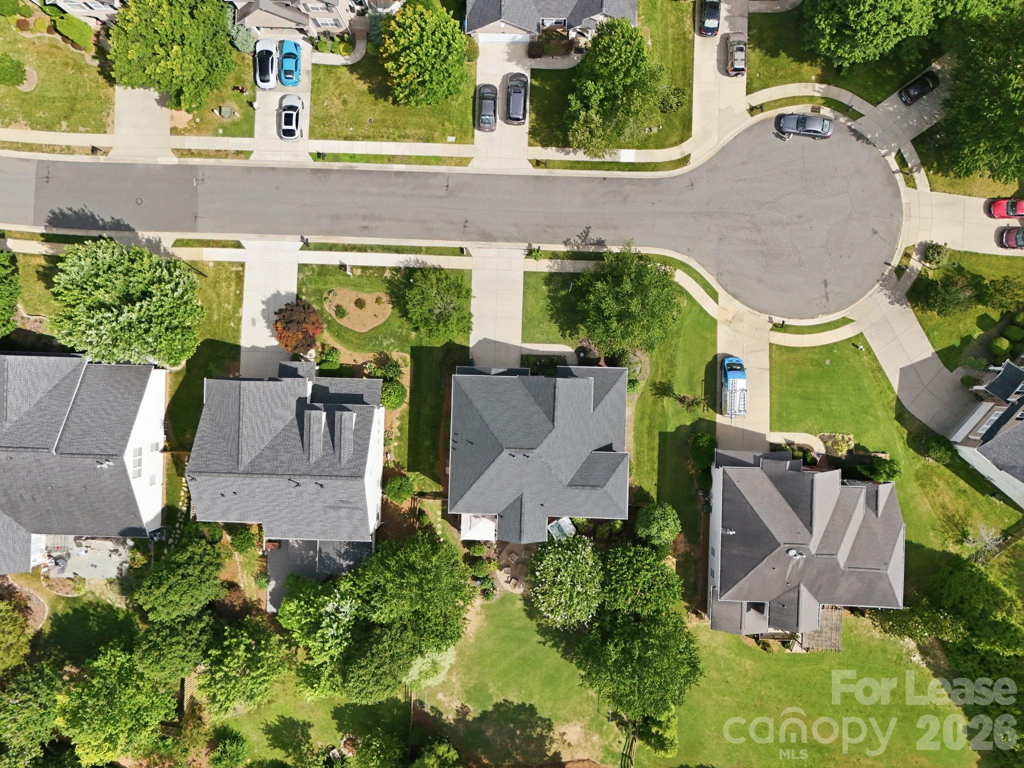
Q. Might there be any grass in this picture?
Yes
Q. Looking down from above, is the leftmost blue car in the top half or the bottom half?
top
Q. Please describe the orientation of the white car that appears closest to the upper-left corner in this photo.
up and down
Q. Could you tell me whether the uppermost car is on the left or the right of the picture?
right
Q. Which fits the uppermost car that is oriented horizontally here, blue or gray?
gray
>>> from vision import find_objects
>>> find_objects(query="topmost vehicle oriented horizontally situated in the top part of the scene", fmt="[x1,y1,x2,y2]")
[778,113,832,141]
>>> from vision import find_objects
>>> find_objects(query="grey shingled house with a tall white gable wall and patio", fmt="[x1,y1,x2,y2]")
[0,351,162,574]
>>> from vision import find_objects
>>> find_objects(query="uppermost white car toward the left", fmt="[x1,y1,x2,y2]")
[254,39,280,92]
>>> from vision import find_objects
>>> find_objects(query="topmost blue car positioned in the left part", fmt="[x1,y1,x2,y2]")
[278,40,302,89]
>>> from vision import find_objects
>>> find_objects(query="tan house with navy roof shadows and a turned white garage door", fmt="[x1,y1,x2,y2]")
[951,344,1024,508]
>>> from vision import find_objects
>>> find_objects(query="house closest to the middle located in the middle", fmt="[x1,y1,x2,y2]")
[448,366,630,545]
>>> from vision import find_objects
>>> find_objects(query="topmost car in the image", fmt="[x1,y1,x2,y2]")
[698,0,722,40]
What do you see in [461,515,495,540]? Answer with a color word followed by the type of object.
white gazebo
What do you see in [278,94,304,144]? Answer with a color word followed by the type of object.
white car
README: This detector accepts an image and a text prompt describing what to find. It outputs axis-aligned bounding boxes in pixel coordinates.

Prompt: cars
[893,72,939,109]
[506,73,529,127]
[997,227,1024,250]
[254,39,280,92]
[278,94,304,144]
[278,40,302,89]
[698,0,722,40]
[725,31,748,76]
[475,84,497,134]
[778,113,832,141]
[986,197,1024,220]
